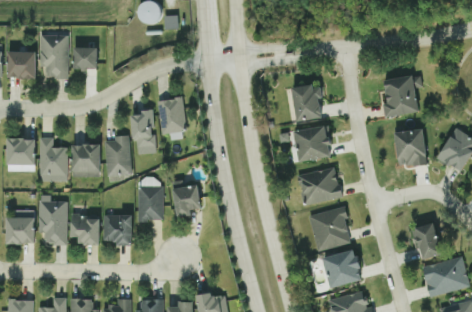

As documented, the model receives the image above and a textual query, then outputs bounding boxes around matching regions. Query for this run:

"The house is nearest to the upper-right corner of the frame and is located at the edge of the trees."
[382,75,423,118]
